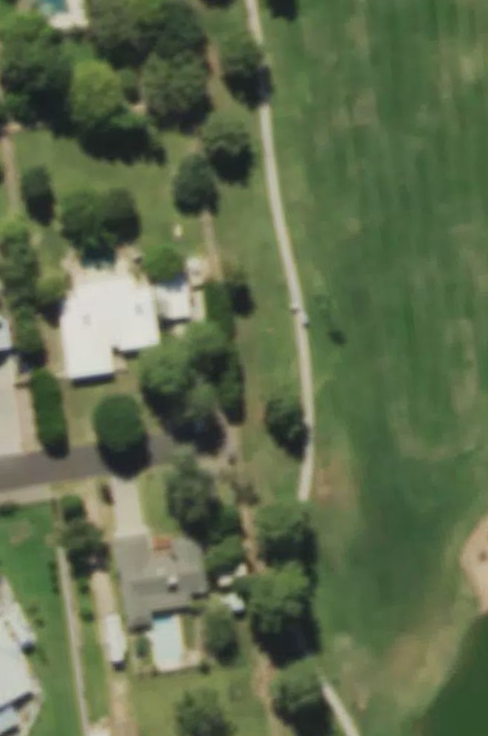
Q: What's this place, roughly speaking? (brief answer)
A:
golf course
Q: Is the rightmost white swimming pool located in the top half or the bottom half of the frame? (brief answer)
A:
bottom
